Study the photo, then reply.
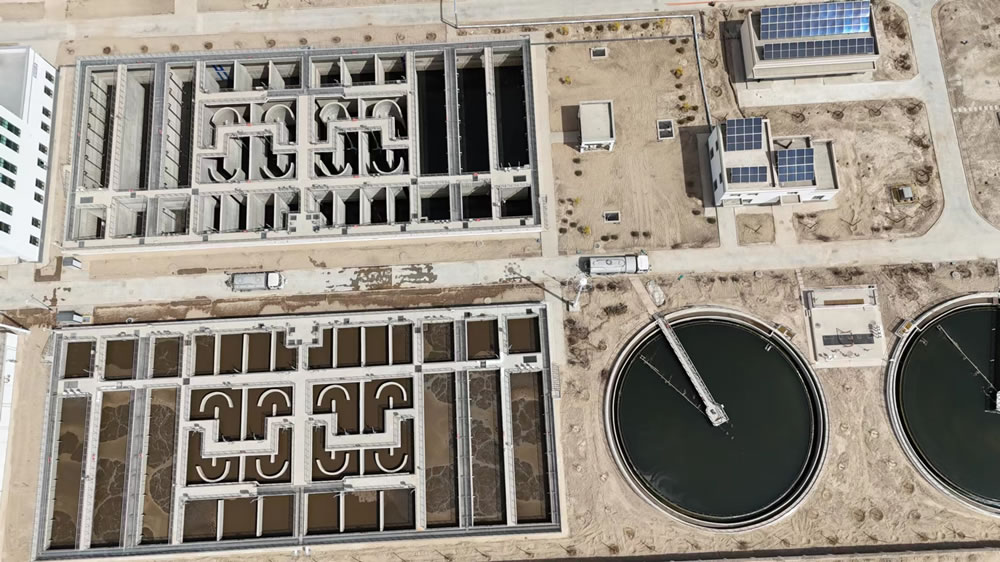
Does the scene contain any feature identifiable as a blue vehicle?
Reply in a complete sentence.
No, there isn't any blue vehicle down there.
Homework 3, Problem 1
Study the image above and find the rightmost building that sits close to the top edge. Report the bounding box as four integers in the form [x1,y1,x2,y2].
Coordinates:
[740,0,886,79]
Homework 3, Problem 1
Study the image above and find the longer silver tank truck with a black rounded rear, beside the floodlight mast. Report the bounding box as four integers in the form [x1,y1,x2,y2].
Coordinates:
[580,249,649,274]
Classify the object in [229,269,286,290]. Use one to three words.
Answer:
truck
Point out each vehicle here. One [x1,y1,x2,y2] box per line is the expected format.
[580,249,649,274]
[229,269,286,290]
